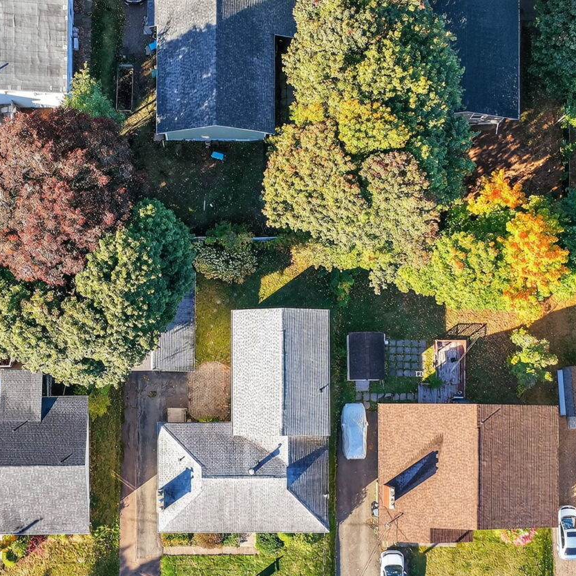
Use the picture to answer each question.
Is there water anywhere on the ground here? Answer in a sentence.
No, no water is visible.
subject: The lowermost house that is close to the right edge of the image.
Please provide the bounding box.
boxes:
[371,404,559,546]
